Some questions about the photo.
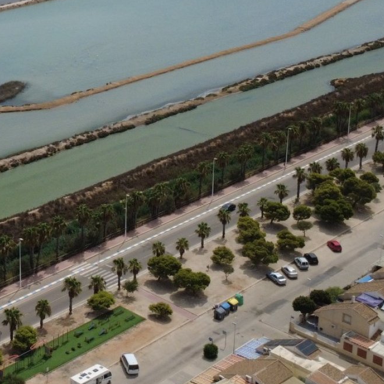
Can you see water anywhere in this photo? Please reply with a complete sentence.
Yes, water shows up in the scene.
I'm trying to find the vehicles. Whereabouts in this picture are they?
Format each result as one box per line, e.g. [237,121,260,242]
[277,265,302,280]
[290,256,314,273]
[69,360,112,384]
[218,203,237,213]
[300,252,324,267]
[120,353,141,375]
[323,241,346,253]
[265,273,290,288]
